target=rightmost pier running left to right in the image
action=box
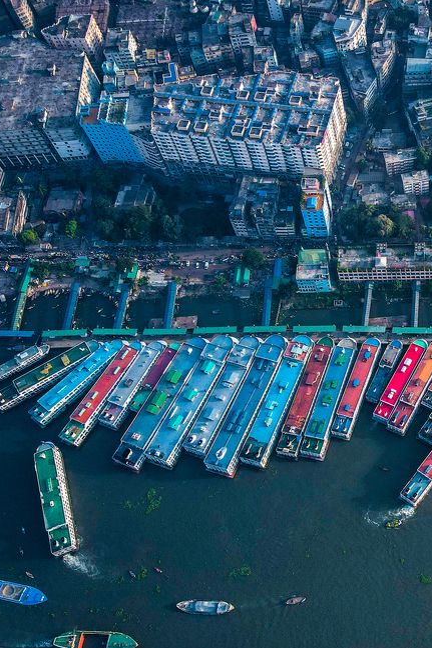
[388,326,432,347]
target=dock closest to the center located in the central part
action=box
[192,326,241,347]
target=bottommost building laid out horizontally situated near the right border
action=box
[337,245,432,281]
